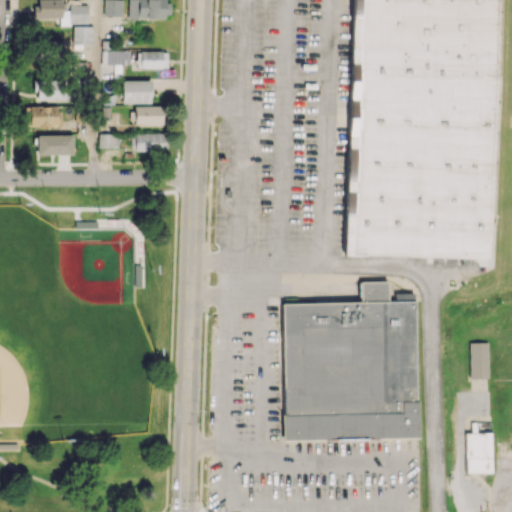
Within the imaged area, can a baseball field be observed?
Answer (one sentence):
Yes, the image includes a baseball field.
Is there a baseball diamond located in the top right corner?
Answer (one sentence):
No, looking in the top right corner, there is no baseball diamond.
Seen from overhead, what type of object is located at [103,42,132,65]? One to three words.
building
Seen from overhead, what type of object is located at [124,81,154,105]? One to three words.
house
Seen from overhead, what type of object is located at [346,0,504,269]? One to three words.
warehouse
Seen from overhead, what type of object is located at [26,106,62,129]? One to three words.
house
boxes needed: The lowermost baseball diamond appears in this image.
[0,345,148,444]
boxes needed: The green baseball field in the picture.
[0,206,154,442]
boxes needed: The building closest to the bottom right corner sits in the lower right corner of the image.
[466,422,495,476]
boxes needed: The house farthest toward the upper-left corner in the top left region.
[35,0,72,28]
